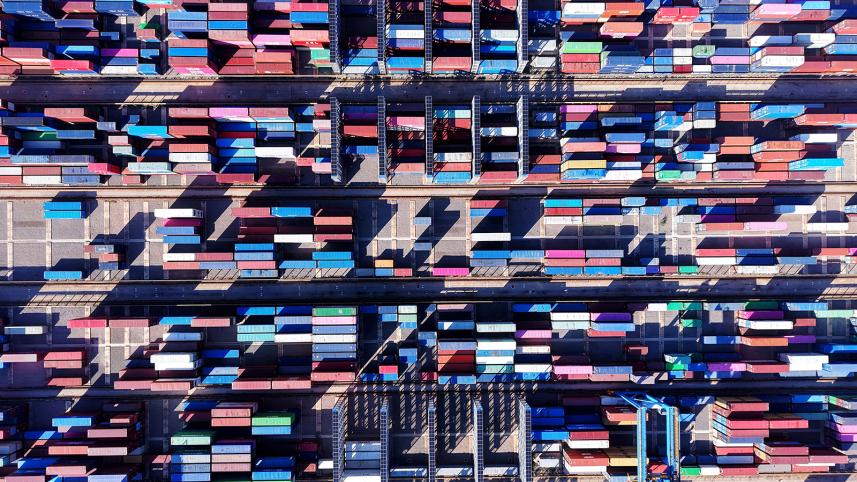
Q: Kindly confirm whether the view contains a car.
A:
No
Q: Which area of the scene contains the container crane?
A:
bottom right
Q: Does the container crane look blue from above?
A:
Yes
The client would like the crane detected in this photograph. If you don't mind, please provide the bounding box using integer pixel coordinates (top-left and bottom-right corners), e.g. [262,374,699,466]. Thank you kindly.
[613,390,676,482]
